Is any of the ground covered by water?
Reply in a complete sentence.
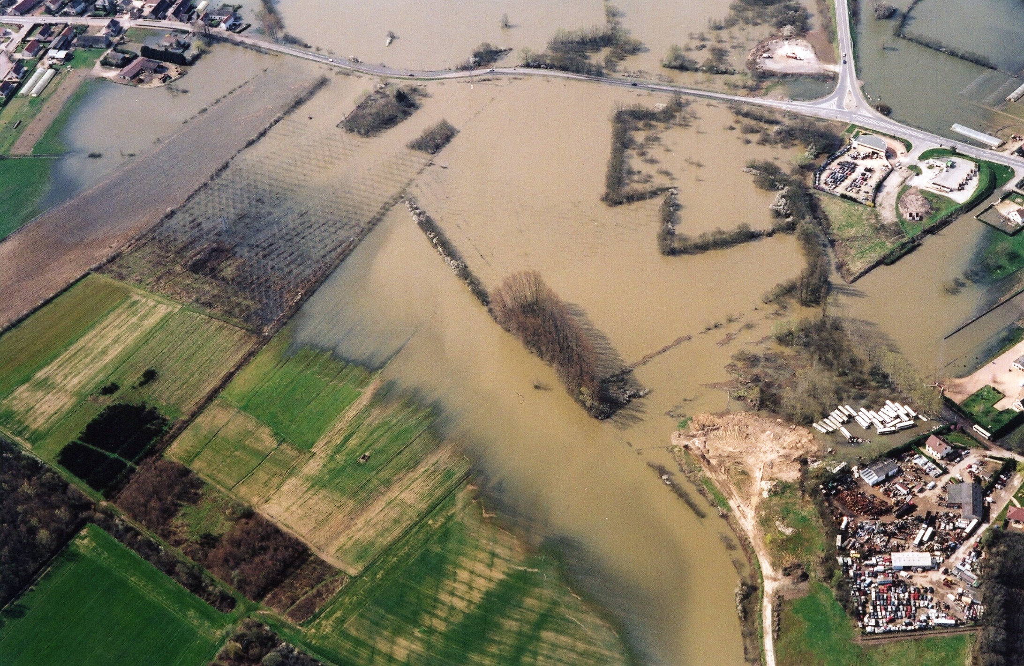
Yes, water shows up in the scene.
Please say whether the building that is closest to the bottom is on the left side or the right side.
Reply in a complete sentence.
You can find the building that is closest to the bottom on the right side of the picture.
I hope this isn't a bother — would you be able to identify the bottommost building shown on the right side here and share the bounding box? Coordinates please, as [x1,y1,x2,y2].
[887,549,935,573]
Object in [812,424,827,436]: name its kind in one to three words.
vehicle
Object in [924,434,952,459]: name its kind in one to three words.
house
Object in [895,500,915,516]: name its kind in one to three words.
vehicle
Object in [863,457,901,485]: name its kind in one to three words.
building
